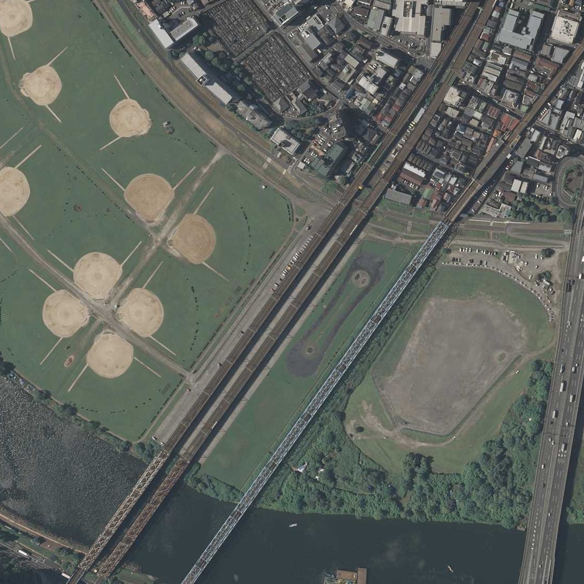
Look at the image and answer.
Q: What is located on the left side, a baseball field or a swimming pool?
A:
baseball field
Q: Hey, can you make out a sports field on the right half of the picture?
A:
Yes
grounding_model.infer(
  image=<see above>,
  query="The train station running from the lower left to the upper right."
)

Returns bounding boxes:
[474,135,516,190]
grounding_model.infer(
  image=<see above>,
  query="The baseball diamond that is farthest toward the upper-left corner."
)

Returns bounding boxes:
[0,0,34,58]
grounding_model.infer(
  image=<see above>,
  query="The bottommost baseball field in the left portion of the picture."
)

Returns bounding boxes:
[69,325,161,385]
